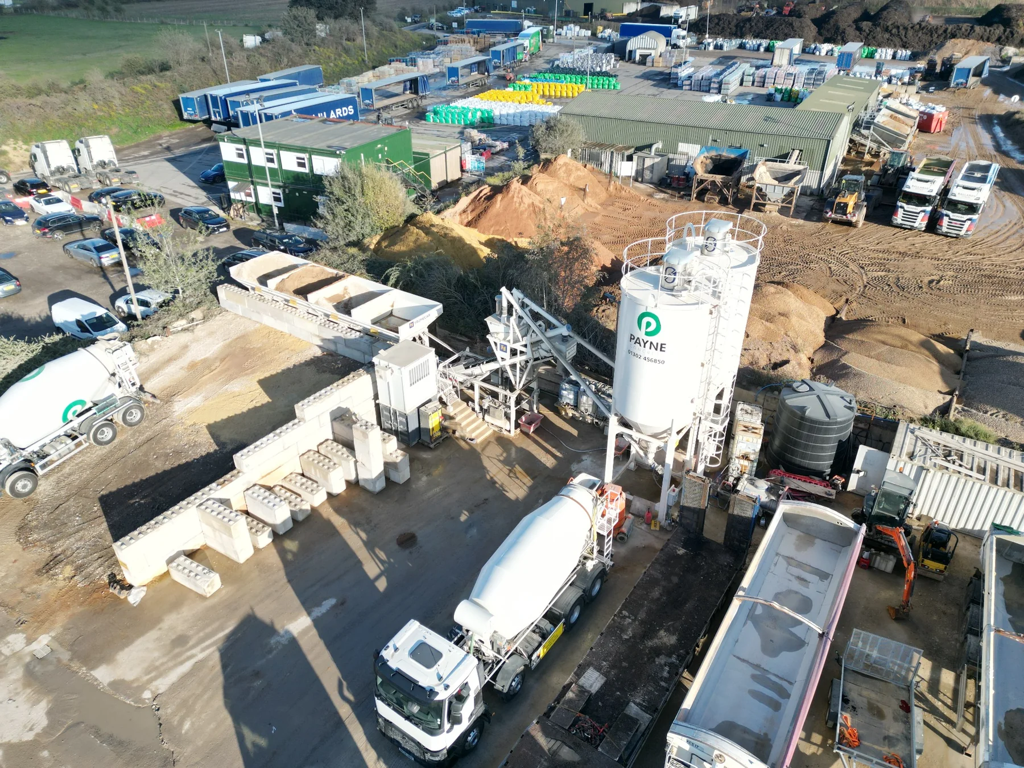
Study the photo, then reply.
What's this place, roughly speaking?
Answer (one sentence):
The picture captures an industrial area.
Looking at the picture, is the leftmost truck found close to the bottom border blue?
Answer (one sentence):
No, the leftmost truck found close to the bottom border is white.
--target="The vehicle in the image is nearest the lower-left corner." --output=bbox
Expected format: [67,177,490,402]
[0,335,154,500]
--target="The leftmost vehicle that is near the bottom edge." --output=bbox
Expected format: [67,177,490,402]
[354,465,621,768]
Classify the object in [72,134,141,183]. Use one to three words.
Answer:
truck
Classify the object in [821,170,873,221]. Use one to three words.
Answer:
work vehicle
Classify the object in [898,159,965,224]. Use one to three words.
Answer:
truck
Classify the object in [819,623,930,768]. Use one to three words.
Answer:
trailer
